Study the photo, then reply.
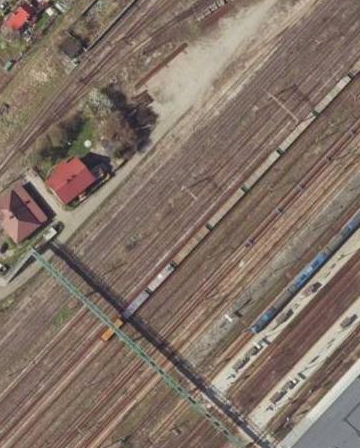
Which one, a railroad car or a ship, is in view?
railroad car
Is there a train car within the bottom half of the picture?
Yes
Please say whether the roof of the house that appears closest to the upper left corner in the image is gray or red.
red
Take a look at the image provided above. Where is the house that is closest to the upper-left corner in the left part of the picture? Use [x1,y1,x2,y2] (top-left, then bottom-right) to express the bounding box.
[6,7,31,30]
